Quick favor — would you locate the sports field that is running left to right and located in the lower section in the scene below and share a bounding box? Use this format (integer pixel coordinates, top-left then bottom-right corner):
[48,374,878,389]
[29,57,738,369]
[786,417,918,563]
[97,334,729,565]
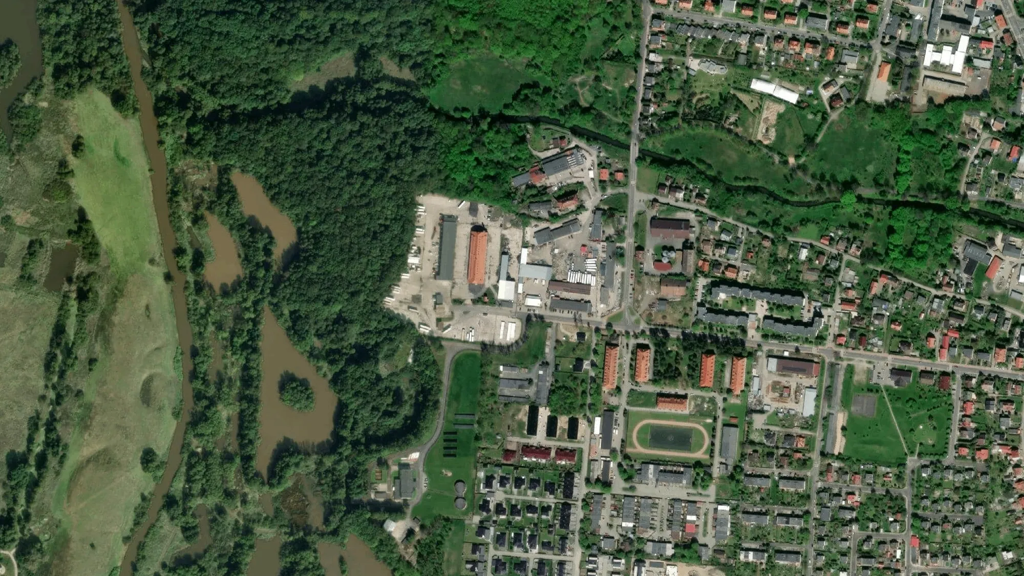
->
[623,417,712,459]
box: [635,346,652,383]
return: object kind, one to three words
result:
building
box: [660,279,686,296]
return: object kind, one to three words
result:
barn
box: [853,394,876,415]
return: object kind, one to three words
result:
sports court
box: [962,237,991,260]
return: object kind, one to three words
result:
building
